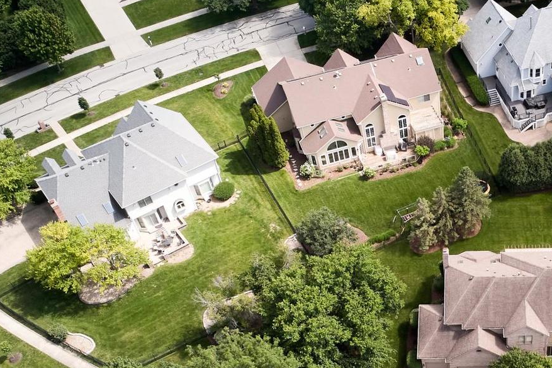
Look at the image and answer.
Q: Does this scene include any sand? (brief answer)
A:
No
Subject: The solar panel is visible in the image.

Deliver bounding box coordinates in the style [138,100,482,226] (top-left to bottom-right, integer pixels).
[380,84,407,106]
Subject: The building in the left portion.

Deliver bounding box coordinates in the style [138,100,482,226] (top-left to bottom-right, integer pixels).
[31,100,223,261]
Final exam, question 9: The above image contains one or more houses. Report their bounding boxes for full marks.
[415,238,552,368]
[31,100,223,261]
[458,0,552,134]
[252,32,447,169]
